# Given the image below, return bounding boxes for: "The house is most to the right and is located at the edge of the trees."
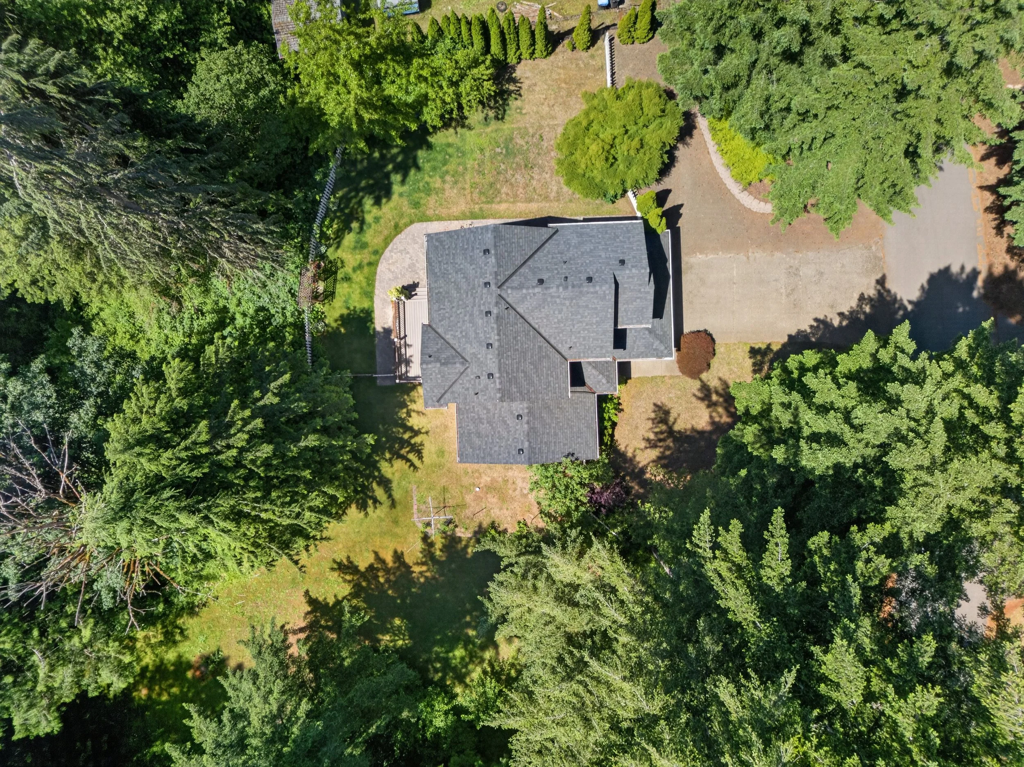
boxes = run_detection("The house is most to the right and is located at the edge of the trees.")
[421,219,675,464]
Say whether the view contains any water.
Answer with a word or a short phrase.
No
